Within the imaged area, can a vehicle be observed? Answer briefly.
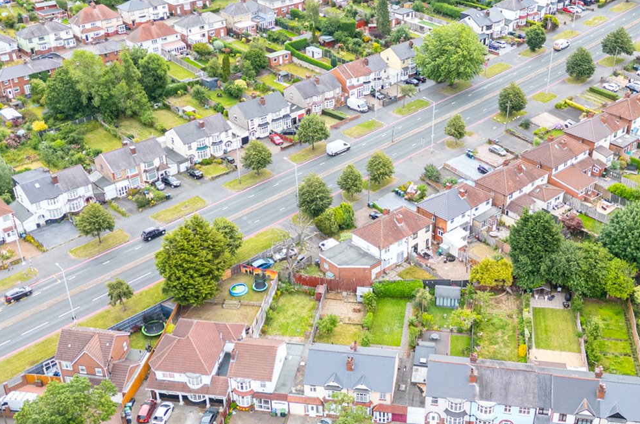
Yes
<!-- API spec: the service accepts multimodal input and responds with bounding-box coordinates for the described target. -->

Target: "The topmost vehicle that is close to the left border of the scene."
[1,286,34,304]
